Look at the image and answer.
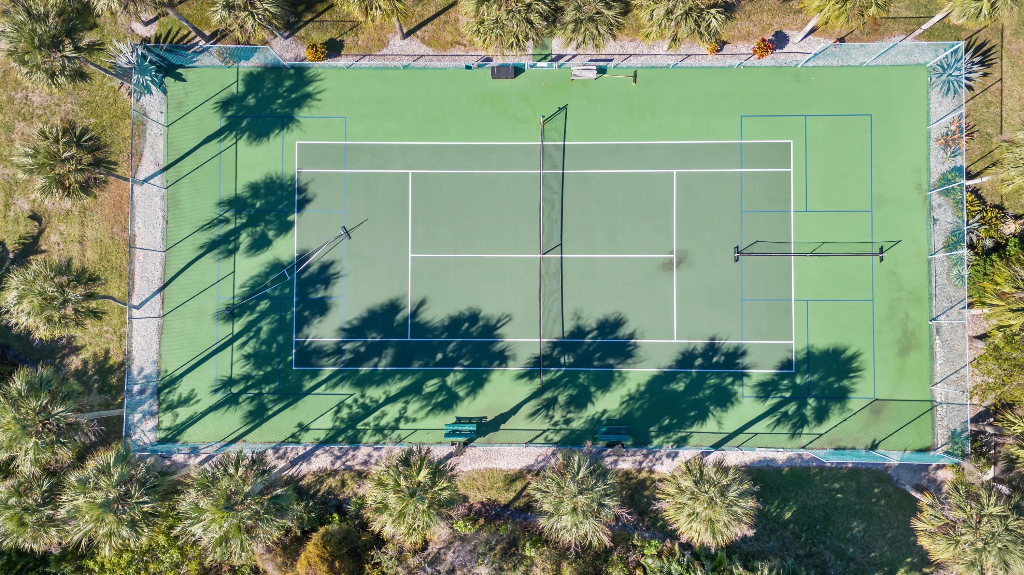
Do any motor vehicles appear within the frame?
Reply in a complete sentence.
No, the frame has no motor vehicle in it.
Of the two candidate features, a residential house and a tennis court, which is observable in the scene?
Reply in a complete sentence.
There is a tennis court in the scene.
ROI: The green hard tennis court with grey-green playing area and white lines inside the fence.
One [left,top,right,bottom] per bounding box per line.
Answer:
[157,61,938,453]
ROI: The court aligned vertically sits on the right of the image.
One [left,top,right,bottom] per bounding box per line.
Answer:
[742,115,874,400]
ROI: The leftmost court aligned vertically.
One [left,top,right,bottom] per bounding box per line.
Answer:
[216,117,346,395]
